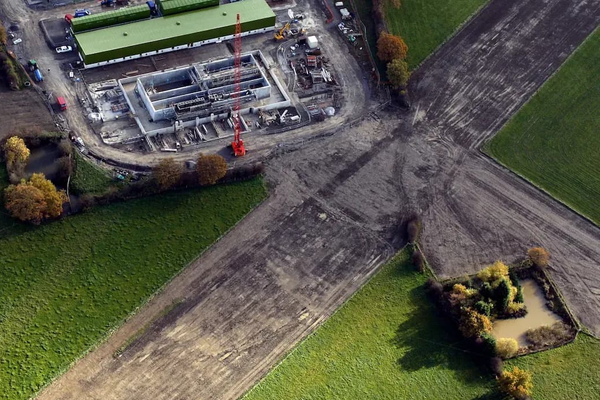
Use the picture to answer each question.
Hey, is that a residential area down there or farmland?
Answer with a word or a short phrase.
farmland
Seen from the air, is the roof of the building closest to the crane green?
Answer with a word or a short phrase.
Yes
